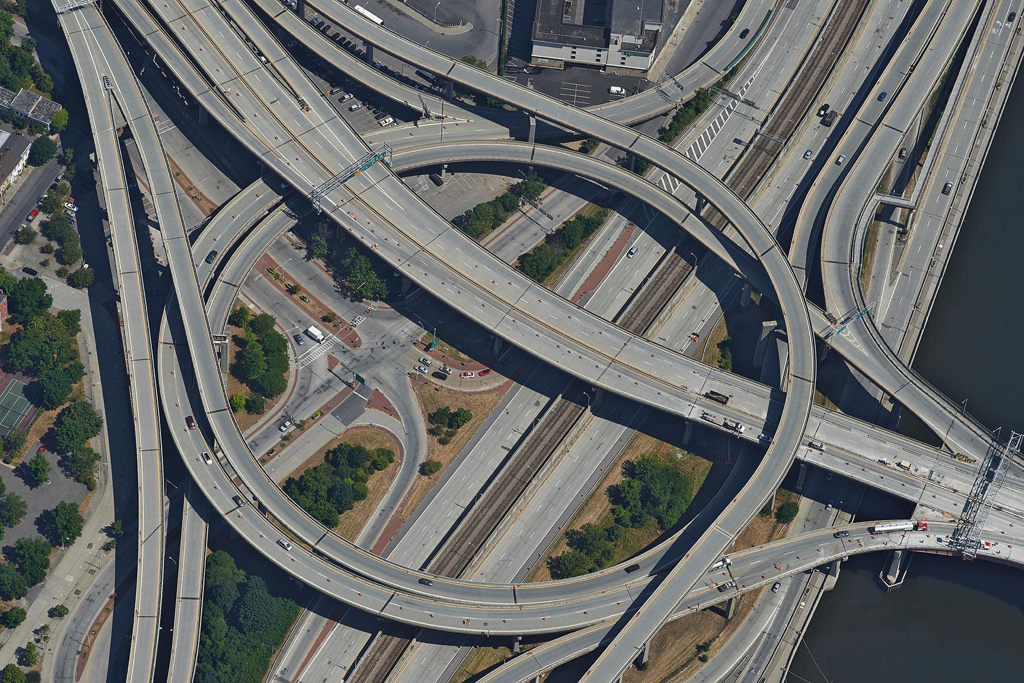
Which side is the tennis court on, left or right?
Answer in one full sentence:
You can find the tennis court on the left side of the picture.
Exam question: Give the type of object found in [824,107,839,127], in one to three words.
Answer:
vehicle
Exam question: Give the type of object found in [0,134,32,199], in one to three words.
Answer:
house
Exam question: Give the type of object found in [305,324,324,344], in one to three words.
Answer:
vehicle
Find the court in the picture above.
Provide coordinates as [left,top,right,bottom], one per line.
[0,349,46,457]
